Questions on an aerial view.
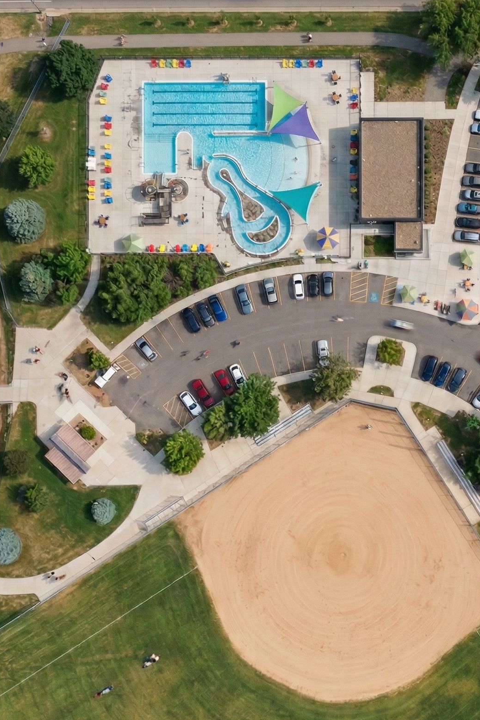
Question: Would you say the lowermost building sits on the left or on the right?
left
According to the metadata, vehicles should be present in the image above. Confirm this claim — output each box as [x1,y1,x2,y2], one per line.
[181,391,201,415]
[474,394,480,407]
[463,188,480,200]
[322,272,334,297]
[474,110,480,120]
[434,362,451,387]
[307,274,319,297]
[183,307,201,333]
[208,293,227,323]
[449,367,466,393]
[464,177,480,187]
[422,356,439,382]
[263,275,279,306]
[293,274,304,299]
[454,229,480,241]
[462,161,480,172]
[237,286,253,313]
[197,302,214,327]
[136,335,155,361]
[215,370,231,393]
[193,380,213,405]
[390,318,415,332]
[230,364,246,386]
[456,216,480,228]
[457,201,480,213]
[470,122,480,135]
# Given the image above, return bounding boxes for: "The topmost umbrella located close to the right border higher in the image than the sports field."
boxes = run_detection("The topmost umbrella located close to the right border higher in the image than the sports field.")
[457,250,475,266]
